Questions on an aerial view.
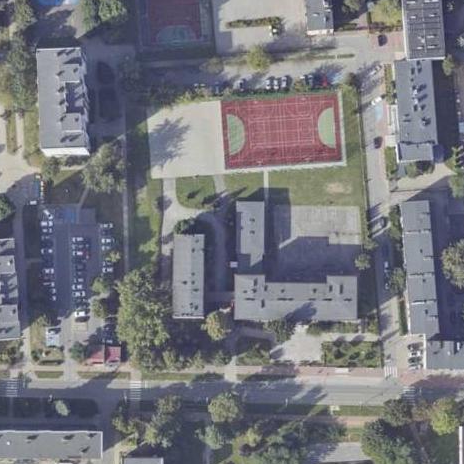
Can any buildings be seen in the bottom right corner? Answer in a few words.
Yes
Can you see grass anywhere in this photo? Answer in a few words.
Yes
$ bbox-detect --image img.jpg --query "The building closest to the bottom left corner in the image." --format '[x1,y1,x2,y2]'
[0,431,107,460]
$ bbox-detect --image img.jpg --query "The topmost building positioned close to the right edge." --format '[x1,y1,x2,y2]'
[401,0,444,64]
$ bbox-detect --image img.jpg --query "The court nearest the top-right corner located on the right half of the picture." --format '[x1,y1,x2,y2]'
[221,92,343,170]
